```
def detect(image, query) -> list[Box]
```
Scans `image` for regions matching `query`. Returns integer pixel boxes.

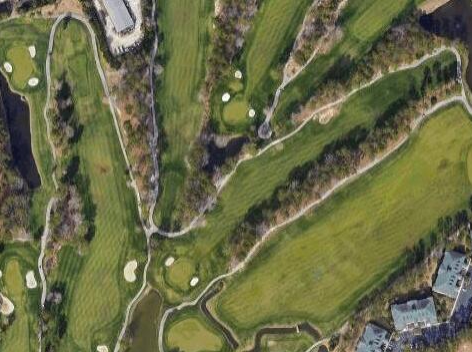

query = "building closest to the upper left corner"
[101,0,131,32]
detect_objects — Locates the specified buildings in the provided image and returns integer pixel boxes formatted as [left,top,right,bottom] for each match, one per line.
[353,323,392,352]
[433,249,472,298]
[101,0,131,32]
[391,298,439,333]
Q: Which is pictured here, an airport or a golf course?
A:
golf course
